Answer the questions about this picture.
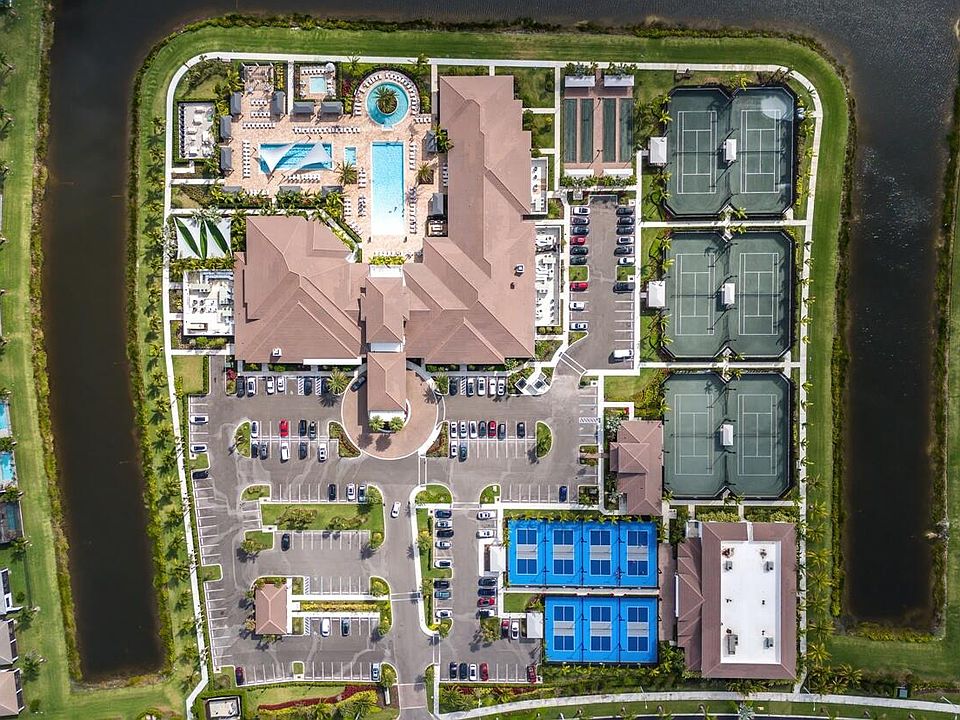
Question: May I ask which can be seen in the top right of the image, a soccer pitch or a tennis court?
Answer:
tennis court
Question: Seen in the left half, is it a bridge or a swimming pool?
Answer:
swimming pool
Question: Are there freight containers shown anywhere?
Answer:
No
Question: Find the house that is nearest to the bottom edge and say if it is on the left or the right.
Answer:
left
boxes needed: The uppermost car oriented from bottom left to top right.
[350,376,367,391]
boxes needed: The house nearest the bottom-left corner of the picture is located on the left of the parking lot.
[0,665,32,716]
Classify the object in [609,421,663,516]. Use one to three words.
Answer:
building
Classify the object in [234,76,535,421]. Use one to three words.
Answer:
building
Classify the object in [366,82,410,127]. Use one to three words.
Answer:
swimming pool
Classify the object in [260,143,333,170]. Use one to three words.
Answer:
swimming pool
